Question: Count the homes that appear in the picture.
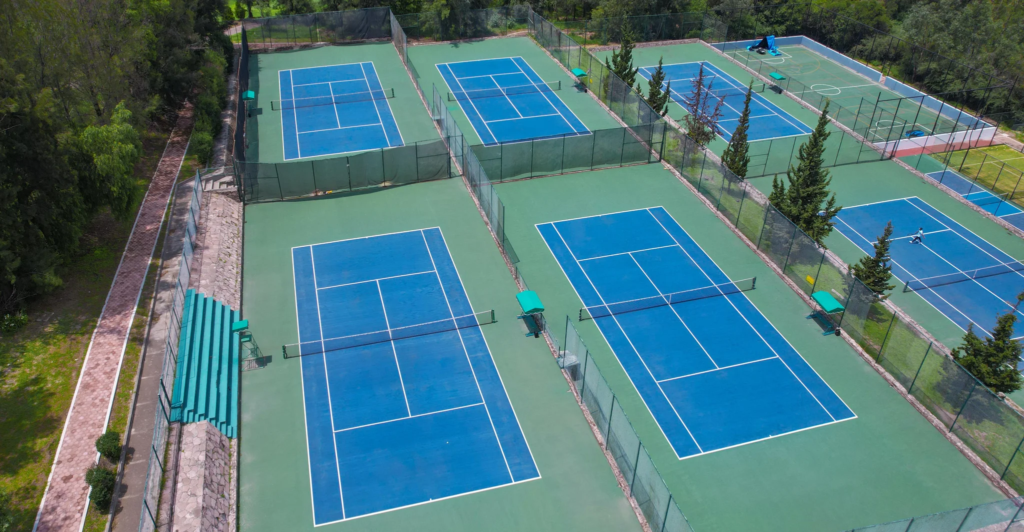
0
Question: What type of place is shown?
sports ground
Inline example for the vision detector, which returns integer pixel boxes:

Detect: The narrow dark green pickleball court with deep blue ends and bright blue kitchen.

[898,153,1024,234]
